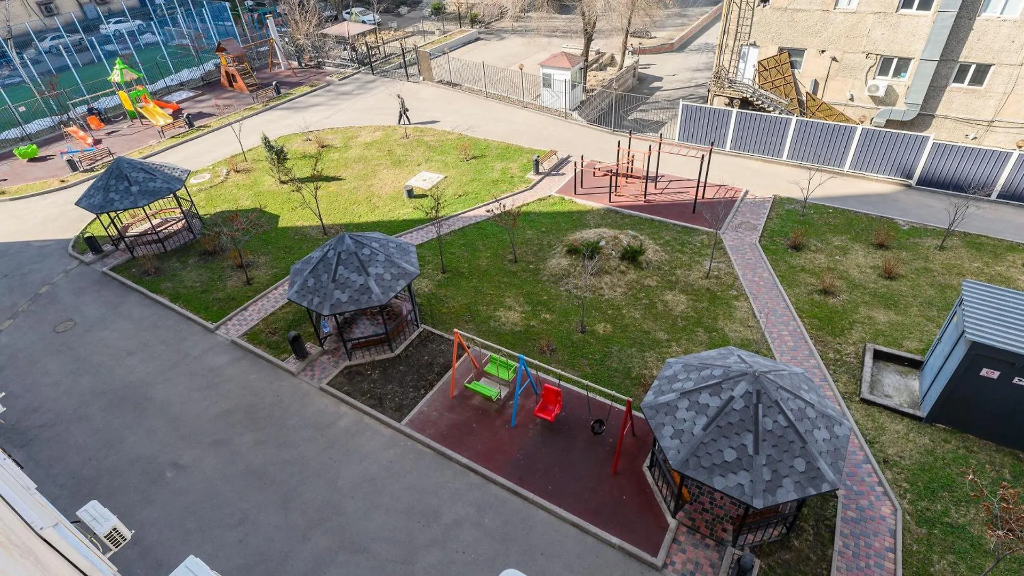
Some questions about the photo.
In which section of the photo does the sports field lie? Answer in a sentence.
You can find the sports field in the top left area of the picture.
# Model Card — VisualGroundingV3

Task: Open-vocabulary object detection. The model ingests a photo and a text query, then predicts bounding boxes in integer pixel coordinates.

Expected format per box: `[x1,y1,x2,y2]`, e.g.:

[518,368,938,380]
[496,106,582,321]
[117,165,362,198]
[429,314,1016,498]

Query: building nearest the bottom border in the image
[0,452,117,576]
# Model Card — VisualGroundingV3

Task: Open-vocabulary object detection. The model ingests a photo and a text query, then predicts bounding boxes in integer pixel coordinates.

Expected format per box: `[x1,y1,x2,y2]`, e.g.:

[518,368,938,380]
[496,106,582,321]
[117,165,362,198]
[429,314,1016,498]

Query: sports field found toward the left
[0,43,240,129]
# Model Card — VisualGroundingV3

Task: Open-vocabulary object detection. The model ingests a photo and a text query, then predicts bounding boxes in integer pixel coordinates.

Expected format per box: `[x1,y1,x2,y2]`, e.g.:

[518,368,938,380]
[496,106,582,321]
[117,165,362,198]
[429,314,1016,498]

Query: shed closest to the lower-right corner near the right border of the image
[923,279,1024,449]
